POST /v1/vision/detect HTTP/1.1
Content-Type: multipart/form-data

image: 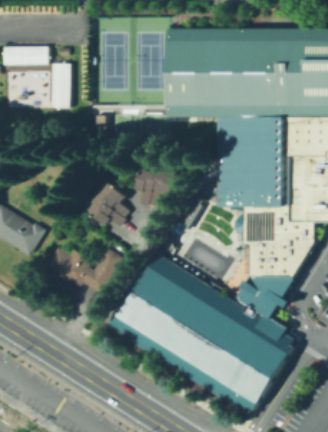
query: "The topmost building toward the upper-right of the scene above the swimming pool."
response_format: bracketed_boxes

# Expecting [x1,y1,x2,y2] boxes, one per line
[163,29,328,116]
